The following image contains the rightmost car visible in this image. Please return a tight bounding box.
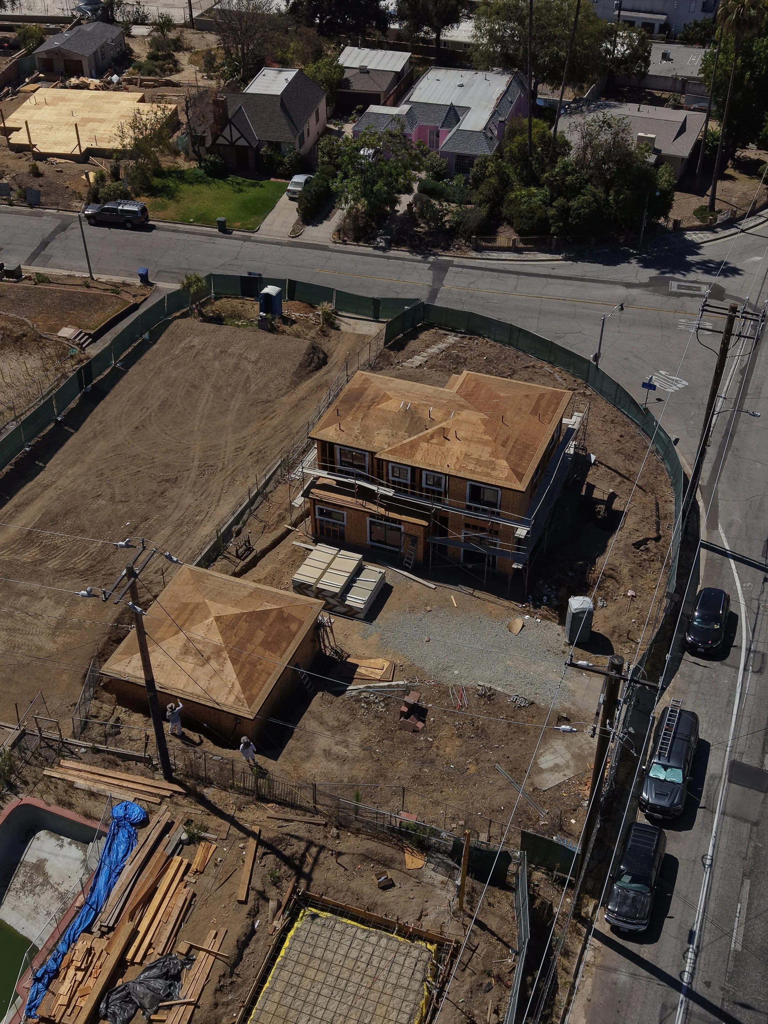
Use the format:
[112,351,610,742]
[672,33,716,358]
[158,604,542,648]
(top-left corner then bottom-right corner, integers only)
[684,576,736,657]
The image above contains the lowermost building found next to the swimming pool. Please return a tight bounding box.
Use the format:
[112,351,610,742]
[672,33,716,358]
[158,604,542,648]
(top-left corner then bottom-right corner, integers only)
[98,567,326,756]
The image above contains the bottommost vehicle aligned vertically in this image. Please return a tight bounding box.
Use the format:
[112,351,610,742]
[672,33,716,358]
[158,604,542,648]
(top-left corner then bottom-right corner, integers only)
[602,812,671,938]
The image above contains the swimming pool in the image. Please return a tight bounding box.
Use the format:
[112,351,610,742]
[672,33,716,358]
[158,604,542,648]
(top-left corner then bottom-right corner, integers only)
[0,799,115,1024]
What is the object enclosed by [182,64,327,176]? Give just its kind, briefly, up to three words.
house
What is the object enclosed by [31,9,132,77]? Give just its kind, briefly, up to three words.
building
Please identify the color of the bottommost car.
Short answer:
black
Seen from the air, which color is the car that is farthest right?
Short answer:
black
